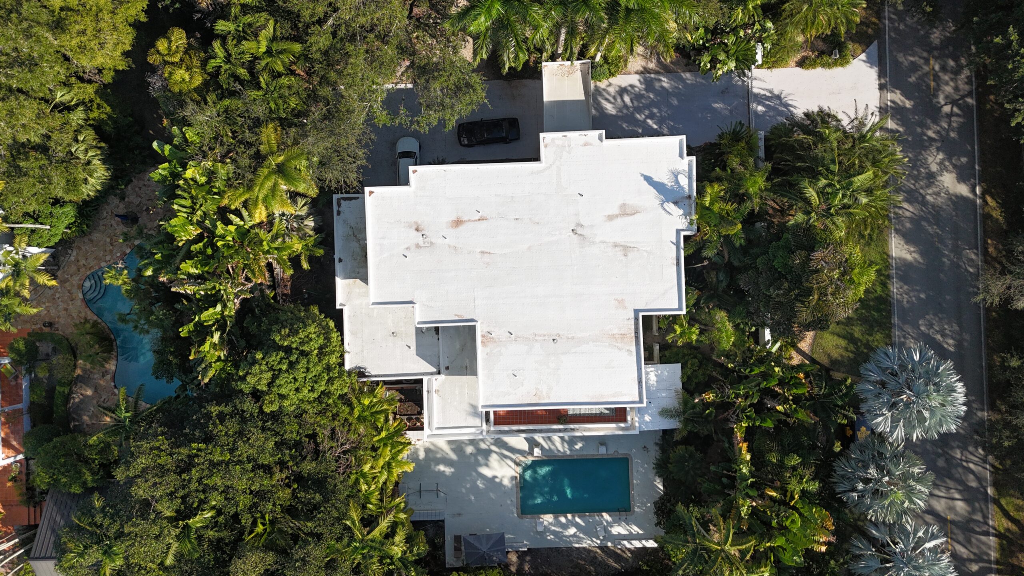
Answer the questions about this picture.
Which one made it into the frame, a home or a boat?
home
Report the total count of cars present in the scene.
2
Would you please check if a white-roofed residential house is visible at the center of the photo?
Yes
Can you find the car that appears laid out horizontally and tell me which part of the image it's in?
top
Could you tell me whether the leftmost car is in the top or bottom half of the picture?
top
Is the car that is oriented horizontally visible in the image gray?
No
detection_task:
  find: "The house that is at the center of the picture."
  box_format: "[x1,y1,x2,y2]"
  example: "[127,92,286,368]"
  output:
[333,60,696,440]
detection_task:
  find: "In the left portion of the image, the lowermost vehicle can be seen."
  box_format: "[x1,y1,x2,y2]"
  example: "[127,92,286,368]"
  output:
[393,138,423,186]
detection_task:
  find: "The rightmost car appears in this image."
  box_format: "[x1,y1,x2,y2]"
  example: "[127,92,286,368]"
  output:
[457,117,520,148]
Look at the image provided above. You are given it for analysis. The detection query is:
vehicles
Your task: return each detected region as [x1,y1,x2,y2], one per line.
[457,117,520,148]
[393,138,423,186]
